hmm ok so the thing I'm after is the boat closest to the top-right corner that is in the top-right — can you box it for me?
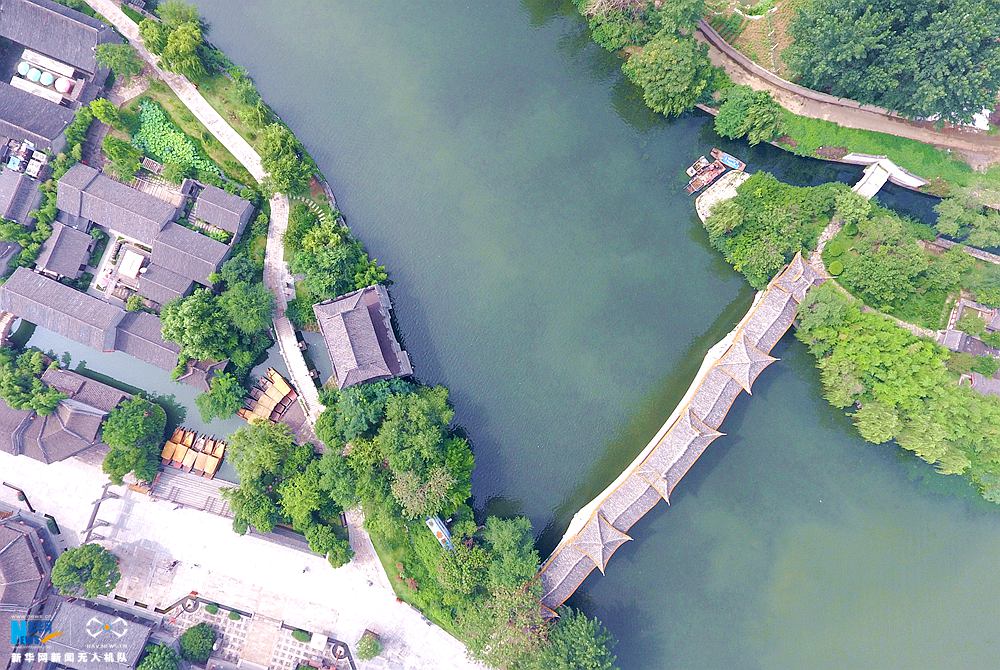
[708,146,748,171]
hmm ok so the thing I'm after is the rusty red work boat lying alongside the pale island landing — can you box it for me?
[682,161,728,198]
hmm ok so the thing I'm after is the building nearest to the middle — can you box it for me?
[309,286,418,393]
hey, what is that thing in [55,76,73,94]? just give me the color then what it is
white umbrella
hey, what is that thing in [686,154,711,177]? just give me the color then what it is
white boat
